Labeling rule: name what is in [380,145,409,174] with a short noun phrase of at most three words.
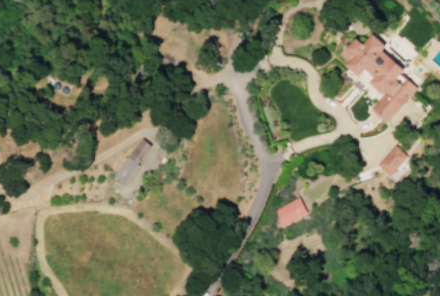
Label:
building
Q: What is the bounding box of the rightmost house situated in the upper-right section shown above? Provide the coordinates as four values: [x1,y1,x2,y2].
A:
[341,32,420,121]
